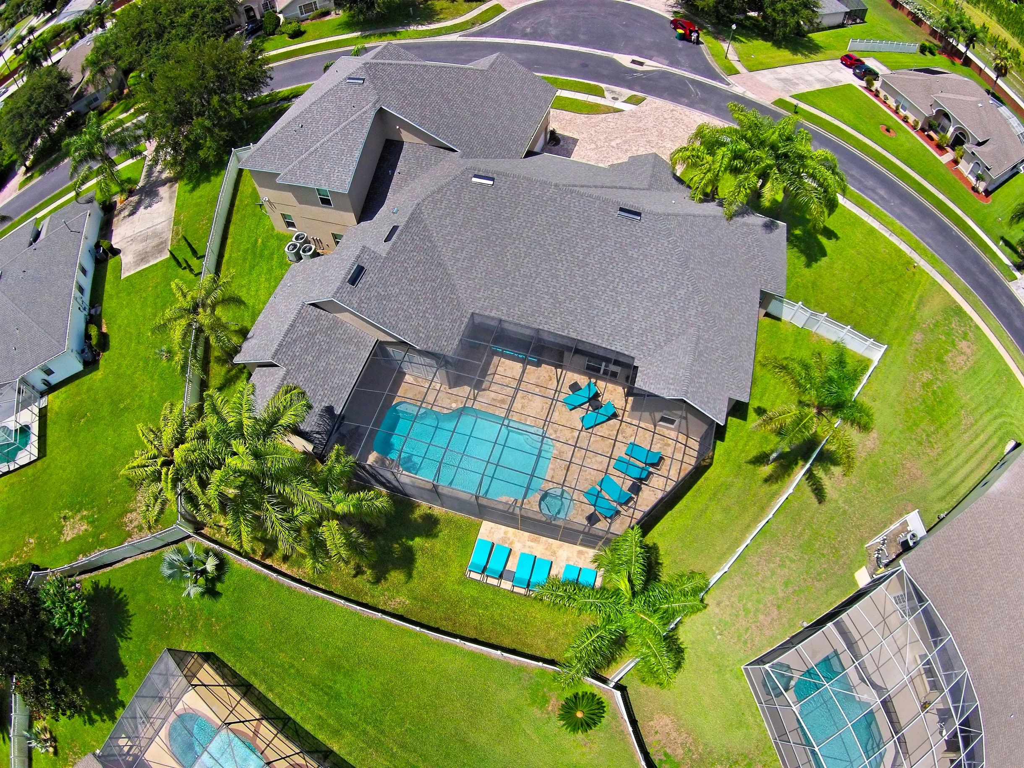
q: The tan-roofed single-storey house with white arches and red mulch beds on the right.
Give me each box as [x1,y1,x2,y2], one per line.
[877,67,1024,190]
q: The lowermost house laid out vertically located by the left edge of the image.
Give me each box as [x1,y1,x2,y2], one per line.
[0,190,102,406]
